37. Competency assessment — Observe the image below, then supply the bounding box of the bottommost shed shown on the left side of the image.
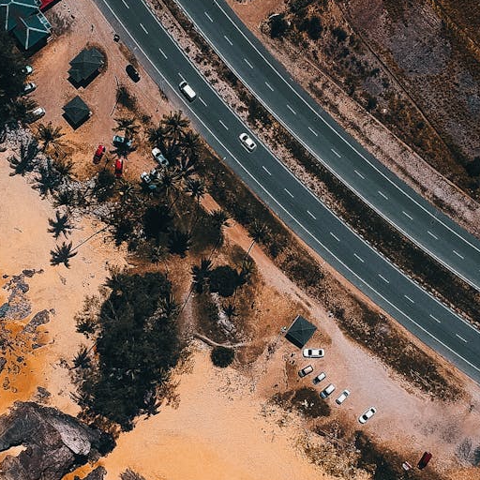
[62,95,90,126]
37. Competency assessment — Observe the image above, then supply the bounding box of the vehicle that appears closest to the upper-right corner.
[239,132,258,152]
